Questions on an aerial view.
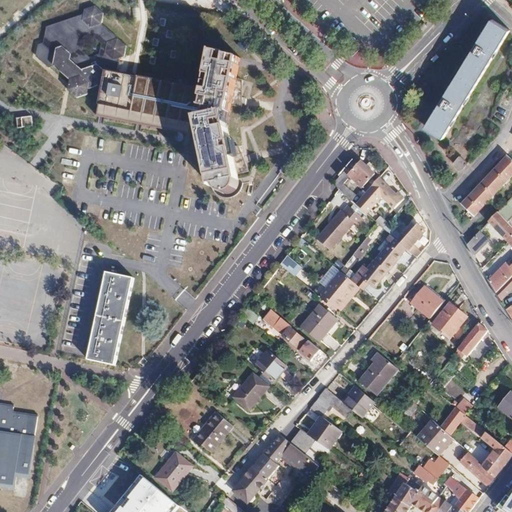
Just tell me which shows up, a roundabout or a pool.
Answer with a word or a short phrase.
roundabout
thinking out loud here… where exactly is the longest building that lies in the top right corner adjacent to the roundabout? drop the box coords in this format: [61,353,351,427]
[423,20,509,142]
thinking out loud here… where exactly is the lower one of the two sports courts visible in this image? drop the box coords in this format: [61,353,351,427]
[0,262,46,340]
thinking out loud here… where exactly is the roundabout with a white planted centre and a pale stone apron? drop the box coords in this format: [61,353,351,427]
[327,66,404,143]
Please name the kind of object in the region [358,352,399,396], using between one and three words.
house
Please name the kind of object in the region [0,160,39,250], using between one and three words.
sports court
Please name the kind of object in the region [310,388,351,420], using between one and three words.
building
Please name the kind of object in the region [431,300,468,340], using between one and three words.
house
